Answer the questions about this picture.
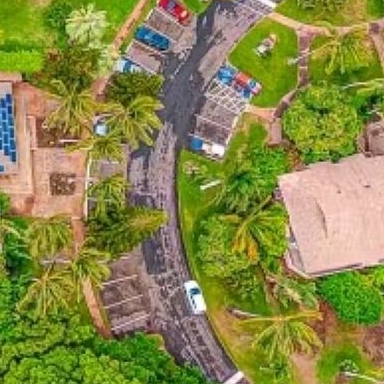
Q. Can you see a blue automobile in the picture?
Yes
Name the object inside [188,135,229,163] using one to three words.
truck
